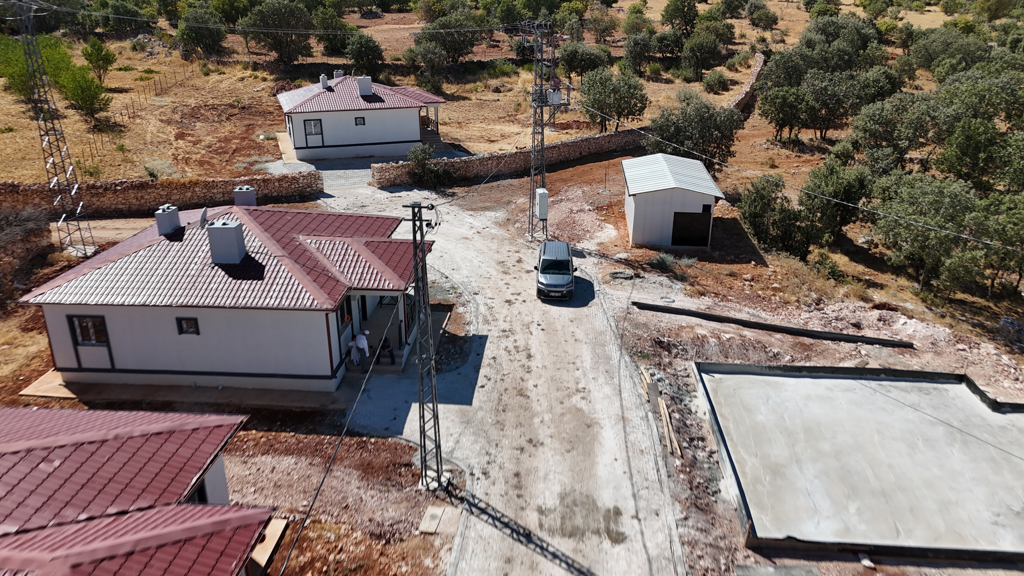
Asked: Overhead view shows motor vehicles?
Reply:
Yes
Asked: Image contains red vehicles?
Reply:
No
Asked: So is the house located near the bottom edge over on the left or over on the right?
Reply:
left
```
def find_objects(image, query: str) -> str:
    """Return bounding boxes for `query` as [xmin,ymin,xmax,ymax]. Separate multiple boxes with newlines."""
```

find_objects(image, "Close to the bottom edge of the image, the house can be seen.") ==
[0,408,281,576]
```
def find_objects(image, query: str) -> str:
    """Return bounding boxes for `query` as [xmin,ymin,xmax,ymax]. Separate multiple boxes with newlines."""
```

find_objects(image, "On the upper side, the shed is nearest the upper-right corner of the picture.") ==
[616,152,728,248]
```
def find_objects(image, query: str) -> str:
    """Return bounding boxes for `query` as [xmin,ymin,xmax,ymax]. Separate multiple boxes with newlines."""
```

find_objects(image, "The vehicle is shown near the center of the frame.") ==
[533,241,579,298]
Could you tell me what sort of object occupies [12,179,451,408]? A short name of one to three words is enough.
house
